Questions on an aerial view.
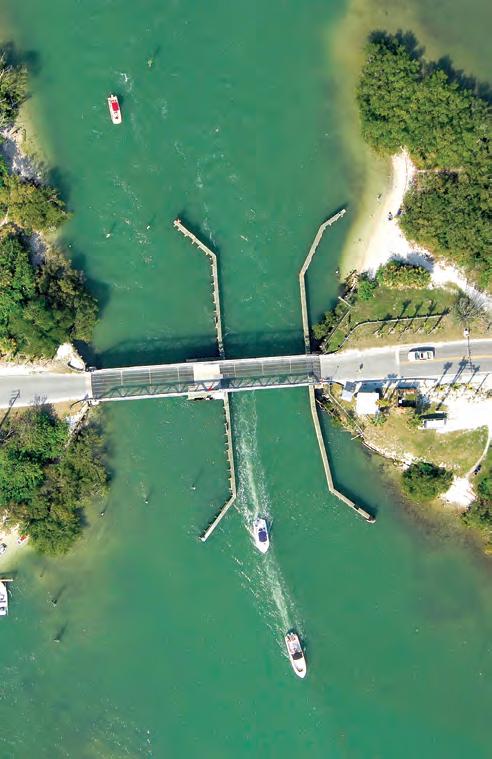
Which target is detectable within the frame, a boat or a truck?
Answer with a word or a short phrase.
boat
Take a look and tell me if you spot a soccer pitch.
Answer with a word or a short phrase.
No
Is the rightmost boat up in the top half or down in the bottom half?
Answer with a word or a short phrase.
bottom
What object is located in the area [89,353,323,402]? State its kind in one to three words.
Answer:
bridge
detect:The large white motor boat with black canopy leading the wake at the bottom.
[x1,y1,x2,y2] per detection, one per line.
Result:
[285,632,305,678]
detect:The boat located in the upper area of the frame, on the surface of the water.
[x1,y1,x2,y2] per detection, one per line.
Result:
[108,95,122,125]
